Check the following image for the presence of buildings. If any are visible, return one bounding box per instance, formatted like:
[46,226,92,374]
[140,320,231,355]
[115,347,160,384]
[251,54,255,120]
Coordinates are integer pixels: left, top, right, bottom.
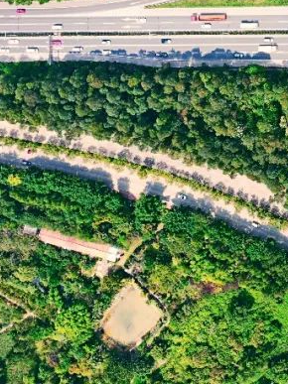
[39,225,123,261]
[22,224,39,235]
[94,258,112,277]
